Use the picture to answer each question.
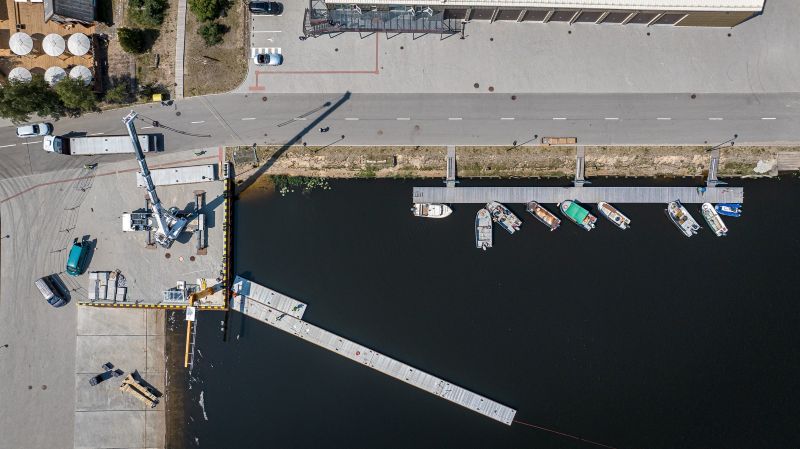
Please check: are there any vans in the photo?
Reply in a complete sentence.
Yes, there is a van in the image.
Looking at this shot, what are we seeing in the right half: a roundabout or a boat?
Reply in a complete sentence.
There is a boat in the right half.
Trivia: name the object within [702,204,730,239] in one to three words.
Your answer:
boat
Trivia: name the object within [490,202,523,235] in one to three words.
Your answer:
boat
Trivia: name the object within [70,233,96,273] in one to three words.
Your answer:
vehicle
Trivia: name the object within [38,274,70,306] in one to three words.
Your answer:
van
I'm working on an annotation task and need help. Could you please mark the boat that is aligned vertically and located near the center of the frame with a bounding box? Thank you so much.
[475,208,493,251]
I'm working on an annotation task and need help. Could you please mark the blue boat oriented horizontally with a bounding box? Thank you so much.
[716,204,746,217]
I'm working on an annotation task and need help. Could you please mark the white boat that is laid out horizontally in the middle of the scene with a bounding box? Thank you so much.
[411,205,453,219]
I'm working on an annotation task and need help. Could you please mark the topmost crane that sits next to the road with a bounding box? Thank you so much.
[123,105,214,254]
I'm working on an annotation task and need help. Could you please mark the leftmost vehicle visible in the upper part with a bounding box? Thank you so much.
[16,121,52,137]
